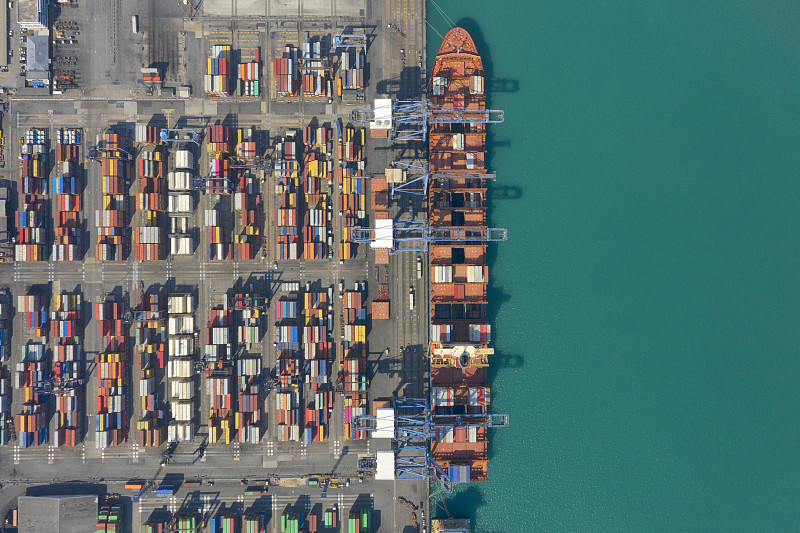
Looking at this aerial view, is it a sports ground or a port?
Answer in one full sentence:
The picture captures a port.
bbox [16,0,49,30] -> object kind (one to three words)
building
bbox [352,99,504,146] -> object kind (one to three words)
container crane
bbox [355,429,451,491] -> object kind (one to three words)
container crane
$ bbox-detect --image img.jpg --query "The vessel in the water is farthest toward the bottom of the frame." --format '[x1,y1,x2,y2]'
[431,506,471,533]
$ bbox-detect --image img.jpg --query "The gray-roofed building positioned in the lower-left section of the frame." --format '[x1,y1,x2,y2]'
[16,492,104,533]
